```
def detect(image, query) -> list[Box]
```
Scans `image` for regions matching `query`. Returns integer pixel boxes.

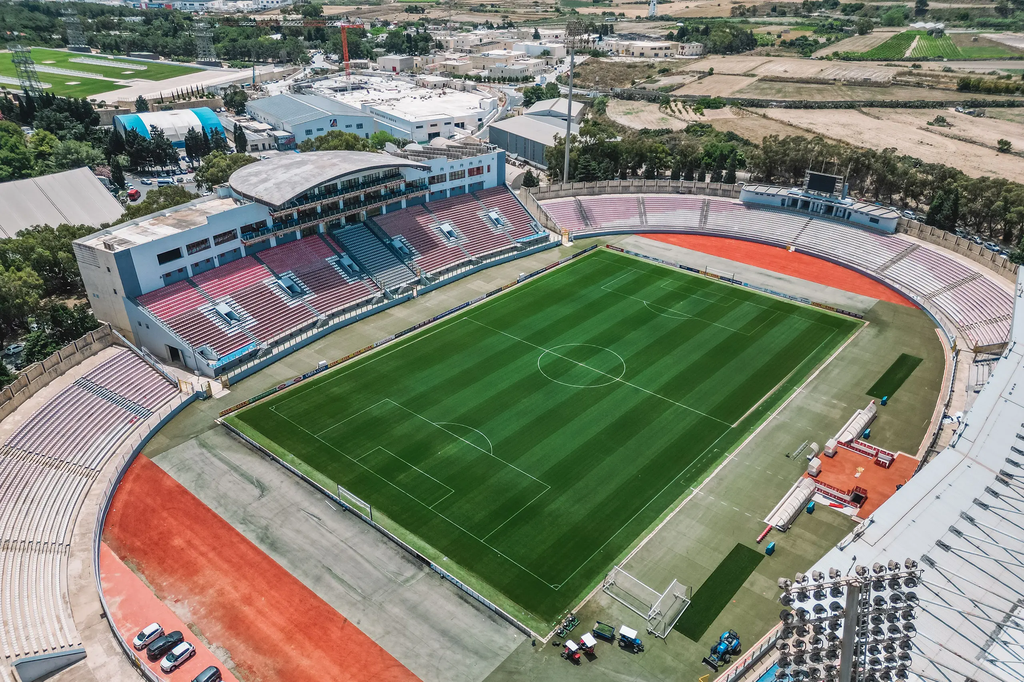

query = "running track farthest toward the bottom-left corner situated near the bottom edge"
[100,450,418,682]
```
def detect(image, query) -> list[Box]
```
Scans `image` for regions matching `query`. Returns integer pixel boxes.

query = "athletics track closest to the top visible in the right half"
[637,234,922,310]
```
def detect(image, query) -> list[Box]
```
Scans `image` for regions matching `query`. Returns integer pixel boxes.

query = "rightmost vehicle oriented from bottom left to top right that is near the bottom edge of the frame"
[697,628,742,680]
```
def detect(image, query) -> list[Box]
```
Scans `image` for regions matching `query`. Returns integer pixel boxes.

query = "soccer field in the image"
[237,250,859,625]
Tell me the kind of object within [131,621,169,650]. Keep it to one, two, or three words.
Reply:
car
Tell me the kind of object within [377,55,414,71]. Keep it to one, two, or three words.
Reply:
building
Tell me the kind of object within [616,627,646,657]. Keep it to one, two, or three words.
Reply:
work vehicle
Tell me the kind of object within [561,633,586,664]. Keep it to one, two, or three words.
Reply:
work vehicle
